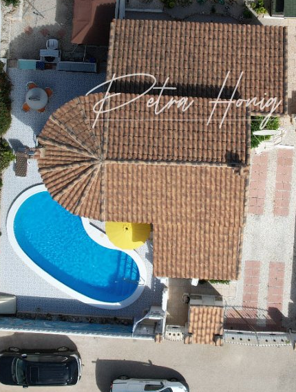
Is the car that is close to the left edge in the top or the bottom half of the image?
bottom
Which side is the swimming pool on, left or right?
left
